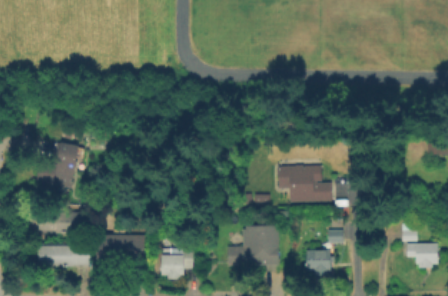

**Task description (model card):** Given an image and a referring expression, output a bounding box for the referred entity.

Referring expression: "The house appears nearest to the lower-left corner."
[38,246,90,266]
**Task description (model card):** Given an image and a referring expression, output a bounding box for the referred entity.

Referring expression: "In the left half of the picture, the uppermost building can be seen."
[54,142,82,189]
